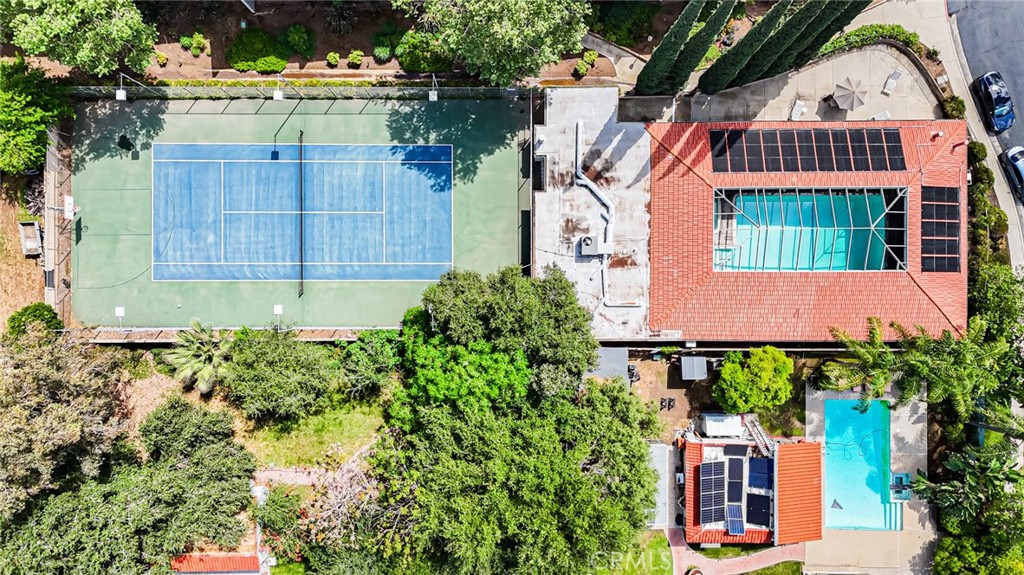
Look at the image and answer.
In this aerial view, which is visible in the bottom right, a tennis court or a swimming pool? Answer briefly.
swimming pool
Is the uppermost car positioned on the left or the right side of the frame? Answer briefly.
right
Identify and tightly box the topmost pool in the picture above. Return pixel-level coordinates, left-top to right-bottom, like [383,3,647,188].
[715,192,887,270]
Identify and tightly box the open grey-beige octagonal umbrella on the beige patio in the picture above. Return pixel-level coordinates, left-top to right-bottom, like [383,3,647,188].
[832,75,868,112]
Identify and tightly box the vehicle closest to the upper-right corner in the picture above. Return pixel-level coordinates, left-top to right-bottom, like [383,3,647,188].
[974,70,1017,131]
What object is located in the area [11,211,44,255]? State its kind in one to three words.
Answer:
trailer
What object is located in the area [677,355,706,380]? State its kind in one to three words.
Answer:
shed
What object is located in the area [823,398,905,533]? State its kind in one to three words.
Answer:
swimming pool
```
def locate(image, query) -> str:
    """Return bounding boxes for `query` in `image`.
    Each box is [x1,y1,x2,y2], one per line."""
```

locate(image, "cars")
[1002,146,1024,205]
[974,70,1017,131]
